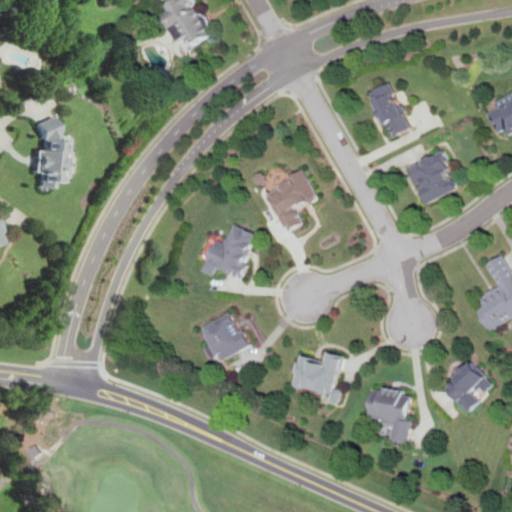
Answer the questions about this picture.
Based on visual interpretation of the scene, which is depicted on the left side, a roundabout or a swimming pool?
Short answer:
swimming pool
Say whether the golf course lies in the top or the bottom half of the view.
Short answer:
bottom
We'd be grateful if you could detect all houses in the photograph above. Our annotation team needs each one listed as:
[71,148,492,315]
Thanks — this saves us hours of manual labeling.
[485,96,512,140]
[266,169,318,232]
[406,146,458,206]
[203,312,250,360]
[477,256,512,330]
[200,226,254,278]
[293,352,343,404]
[366,388,410,444]
[158,0,210,56]
[445,361,494,412]
[368,82,410,138]
[38,114,66,194]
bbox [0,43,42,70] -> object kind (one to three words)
swimming pool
